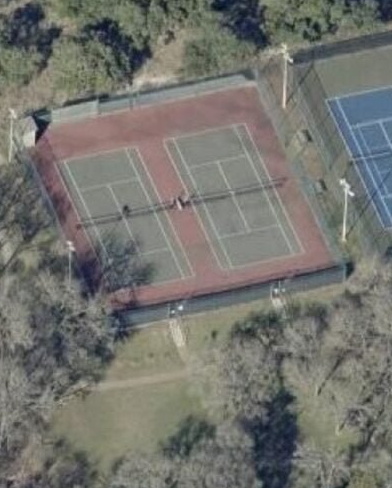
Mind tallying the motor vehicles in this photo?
zero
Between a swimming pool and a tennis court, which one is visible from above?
tennis court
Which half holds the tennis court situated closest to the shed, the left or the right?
left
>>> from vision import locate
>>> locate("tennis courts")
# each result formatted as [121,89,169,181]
[55,146,194,293]
[327,87,392,229]
[164,122,304,269]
